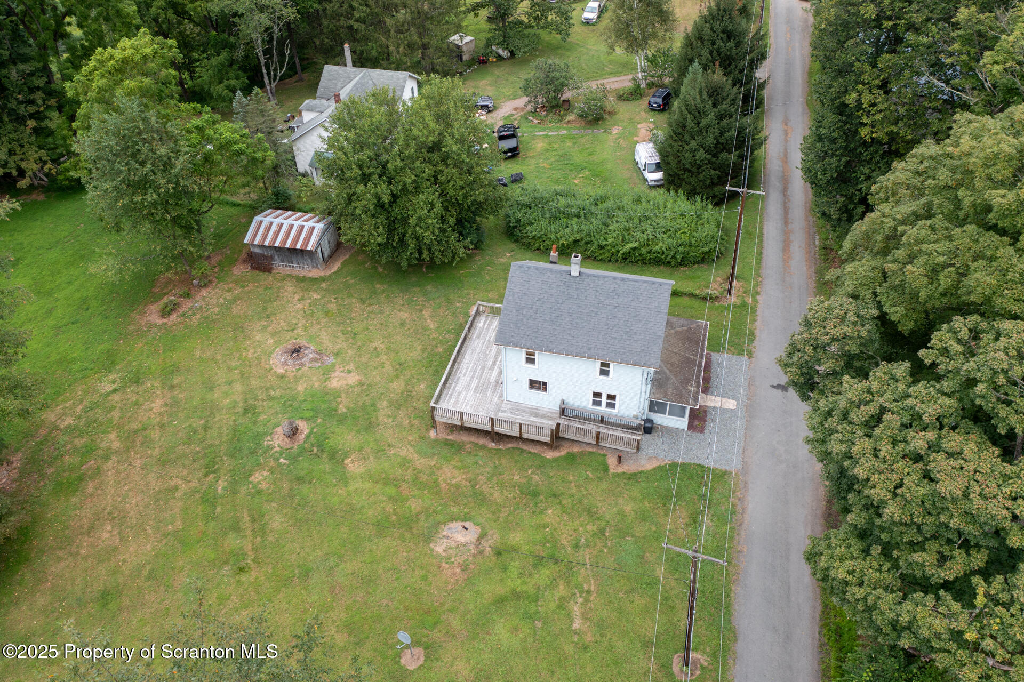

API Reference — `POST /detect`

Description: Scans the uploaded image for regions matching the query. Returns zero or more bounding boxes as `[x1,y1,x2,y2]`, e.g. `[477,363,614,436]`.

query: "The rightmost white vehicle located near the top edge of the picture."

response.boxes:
[584,0,606,20]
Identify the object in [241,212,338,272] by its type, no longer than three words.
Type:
shed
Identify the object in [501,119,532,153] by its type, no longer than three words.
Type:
truck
